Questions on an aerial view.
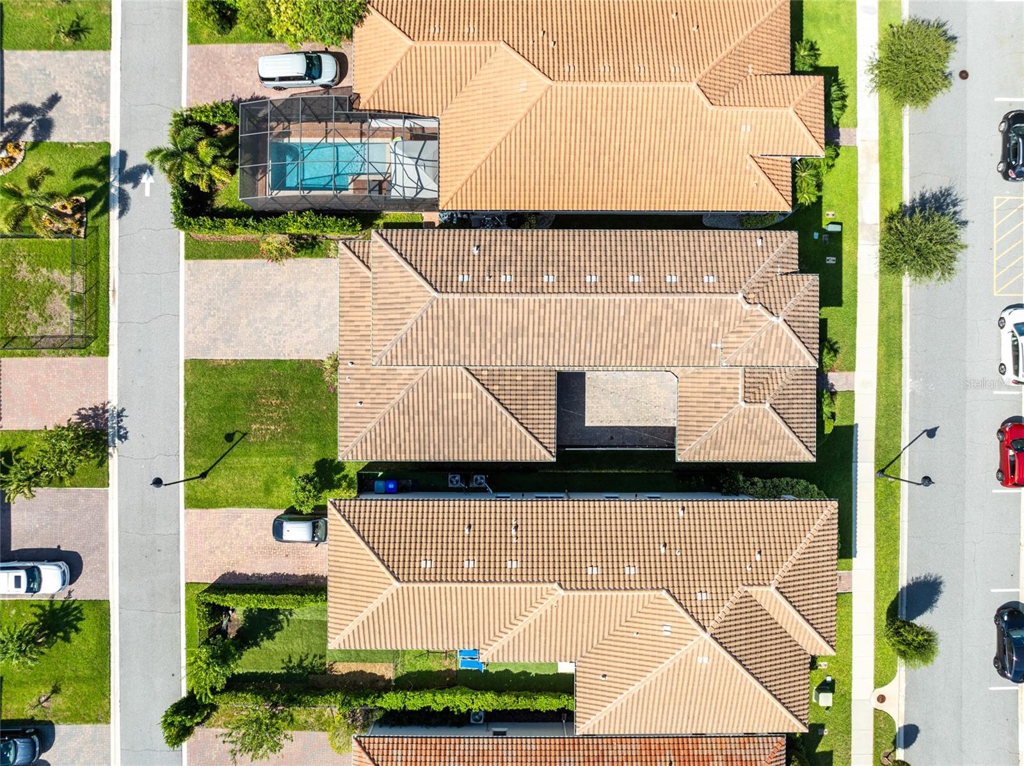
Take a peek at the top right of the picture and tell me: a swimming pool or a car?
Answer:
car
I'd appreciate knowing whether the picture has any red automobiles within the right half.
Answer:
Yes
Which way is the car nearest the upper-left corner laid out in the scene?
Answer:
horizontally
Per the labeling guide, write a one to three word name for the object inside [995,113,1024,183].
car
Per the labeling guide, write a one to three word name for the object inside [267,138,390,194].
swimming pool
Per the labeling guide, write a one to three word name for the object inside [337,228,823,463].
house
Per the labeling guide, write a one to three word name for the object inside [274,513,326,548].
car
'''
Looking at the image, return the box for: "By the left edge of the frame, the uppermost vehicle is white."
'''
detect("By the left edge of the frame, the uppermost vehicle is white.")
[0,560,73,597]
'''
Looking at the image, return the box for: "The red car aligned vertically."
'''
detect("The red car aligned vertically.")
[995,420,1024,487]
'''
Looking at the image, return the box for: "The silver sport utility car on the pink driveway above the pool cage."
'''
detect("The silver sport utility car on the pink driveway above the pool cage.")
[260,52,337,92]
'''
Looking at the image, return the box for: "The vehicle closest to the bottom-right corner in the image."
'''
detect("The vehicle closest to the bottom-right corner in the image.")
[991,601,1024,678]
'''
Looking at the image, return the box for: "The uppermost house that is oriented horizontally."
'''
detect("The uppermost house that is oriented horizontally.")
[351,0,828,214]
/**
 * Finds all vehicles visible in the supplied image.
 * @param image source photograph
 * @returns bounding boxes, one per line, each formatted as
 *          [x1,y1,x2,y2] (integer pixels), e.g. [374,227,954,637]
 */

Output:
[995,113,1024,183]
[995,420,1024,487]
[0,729,43,766]
[991,601,1024,678]
[274,513,326,548]
[996,307,1024,385]
[260,52,337,92]
[0,560,73,597]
